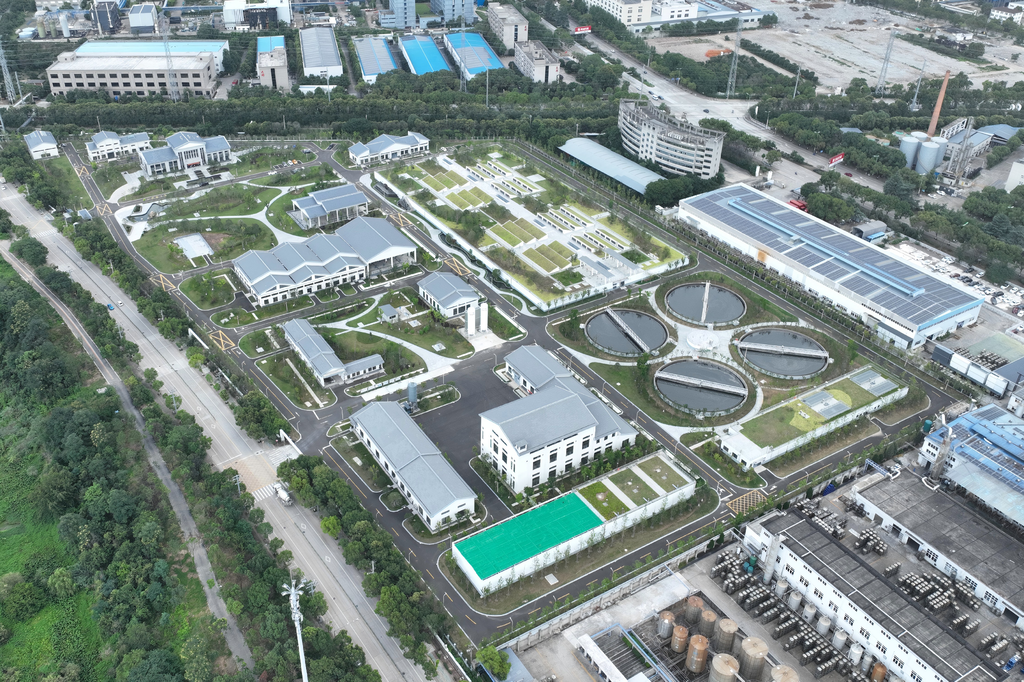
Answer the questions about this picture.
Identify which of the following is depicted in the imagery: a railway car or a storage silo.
storage silo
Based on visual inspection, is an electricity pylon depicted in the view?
Yes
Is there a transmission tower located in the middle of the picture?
No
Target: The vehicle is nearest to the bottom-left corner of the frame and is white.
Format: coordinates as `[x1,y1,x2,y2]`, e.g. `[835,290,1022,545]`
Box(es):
[268,475,295,505]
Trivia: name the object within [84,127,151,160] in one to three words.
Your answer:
house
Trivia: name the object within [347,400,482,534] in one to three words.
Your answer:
building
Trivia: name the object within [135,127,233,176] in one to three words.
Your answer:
house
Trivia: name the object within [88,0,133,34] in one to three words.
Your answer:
building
